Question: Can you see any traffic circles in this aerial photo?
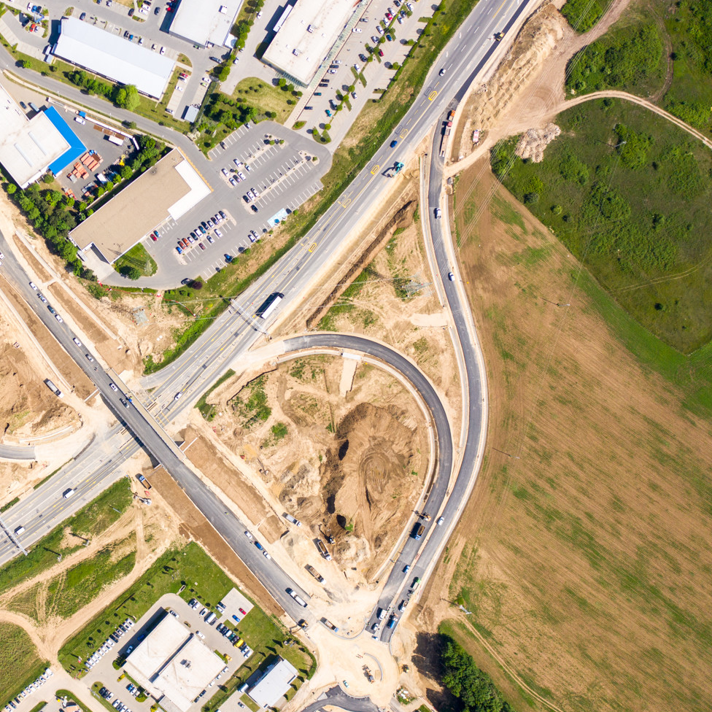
Yes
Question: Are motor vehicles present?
Yes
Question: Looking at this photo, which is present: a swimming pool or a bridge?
bridge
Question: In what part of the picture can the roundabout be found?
bottom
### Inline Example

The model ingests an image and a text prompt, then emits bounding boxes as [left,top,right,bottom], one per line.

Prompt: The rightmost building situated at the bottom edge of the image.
[248,656,297,706]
